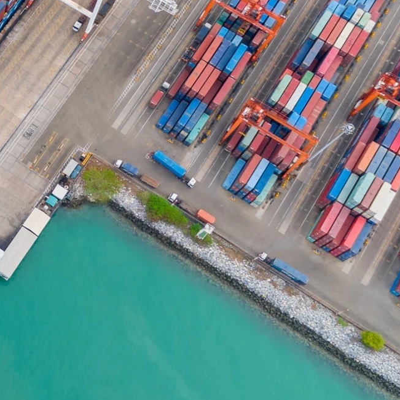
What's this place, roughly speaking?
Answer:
port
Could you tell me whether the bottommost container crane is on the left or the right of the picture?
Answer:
right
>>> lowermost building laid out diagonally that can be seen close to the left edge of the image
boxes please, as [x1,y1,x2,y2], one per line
[0,226,37,278]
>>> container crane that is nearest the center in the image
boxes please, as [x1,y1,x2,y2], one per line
[219,98,323,182]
